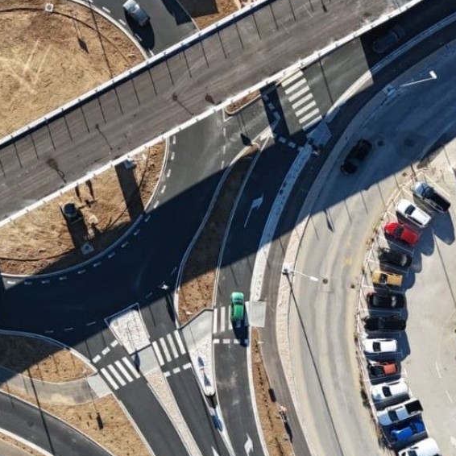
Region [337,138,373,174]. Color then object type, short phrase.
black car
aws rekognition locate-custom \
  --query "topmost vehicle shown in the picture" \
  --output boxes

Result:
[123,0,150,28]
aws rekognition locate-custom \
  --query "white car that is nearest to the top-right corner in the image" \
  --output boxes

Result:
[394,198,432,227]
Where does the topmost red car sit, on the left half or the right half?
right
